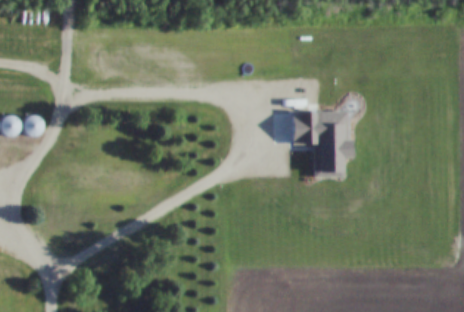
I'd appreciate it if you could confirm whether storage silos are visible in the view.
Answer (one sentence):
Yes, I can see a storage silo in this picture.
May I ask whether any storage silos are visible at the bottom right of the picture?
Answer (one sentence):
No, there is no storage silo at the bottom right of the picture.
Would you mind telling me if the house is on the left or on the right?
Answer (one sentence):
It is on the right.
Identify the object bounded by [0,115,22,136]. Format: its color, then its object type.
white silo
